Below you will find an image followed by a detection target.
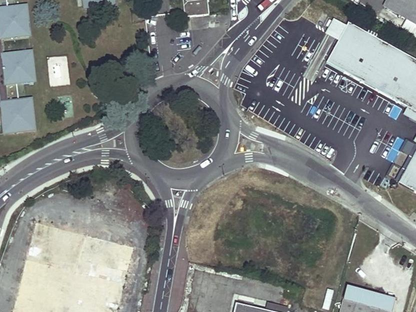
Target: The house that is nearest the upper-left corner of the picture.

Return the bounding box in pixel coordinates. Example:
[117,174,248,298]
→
[0,2,32,39]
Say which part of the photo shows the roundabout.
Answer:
center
